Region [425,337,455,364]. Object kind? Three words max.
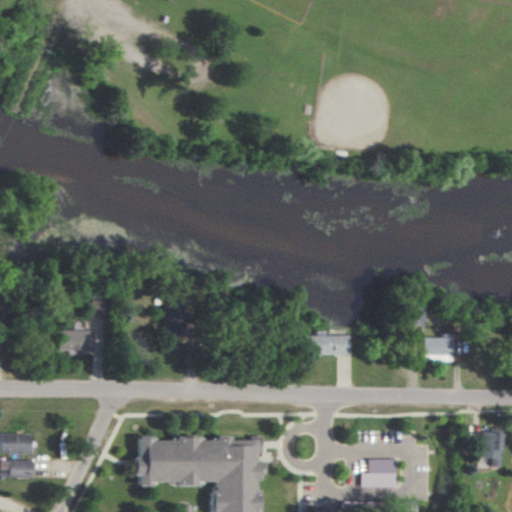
house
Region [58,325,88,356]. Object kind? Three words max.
house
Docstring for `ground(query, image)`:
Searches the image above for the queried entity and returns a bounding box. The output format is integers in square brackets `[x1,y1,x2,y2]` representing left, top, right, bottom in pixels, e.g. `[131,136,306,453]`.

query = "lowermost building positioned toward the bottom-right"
[360,460,398,488]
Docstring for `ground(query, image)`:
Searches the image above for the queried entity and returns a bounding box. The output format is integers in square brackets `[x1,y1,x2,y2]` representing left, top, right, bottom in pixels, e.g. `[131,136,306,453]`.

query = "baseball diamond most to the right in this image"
[316,52,390,151]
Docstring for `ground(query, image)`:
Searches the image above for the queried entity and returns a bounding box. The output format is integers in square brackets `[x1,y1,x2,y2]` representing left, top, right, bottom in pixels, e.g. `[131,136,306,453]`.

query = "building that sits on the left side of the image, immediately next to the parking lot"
[136,436,266,512]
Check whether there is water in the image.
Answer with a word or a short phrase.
Yes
